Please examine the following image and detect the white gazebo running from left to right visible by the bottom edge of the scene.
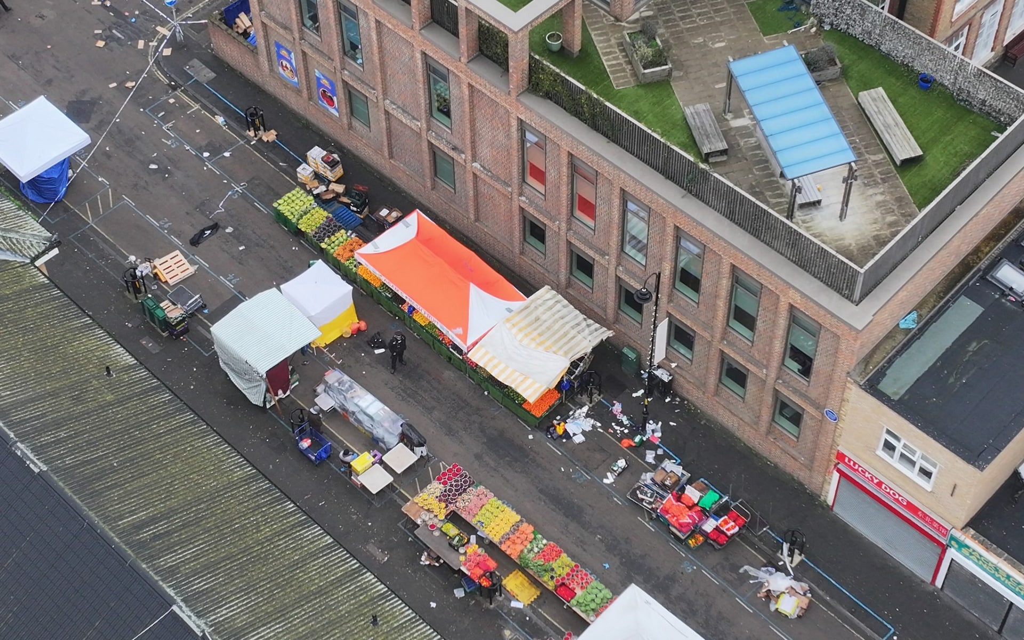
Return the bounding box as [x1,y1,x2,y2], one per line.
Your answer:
[580,585,706,640]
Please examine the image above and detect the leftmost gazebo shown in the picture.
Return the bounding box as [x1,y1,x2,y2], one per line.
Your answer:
[0,99,100,224]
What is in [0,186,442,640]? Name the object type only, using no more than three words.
building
